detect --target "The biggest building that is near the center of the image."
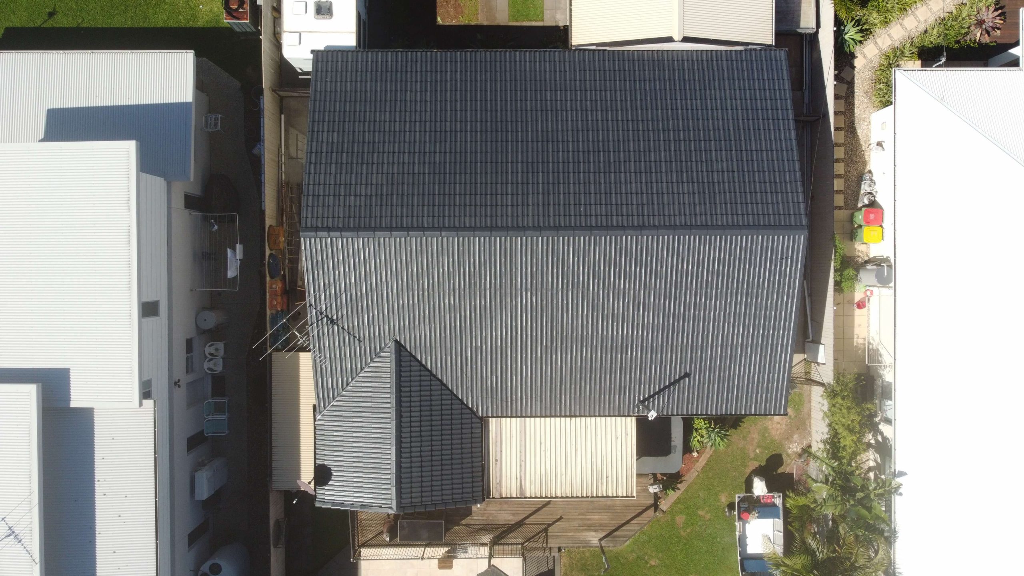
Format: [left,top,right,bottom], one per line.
[298,46,807,514]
